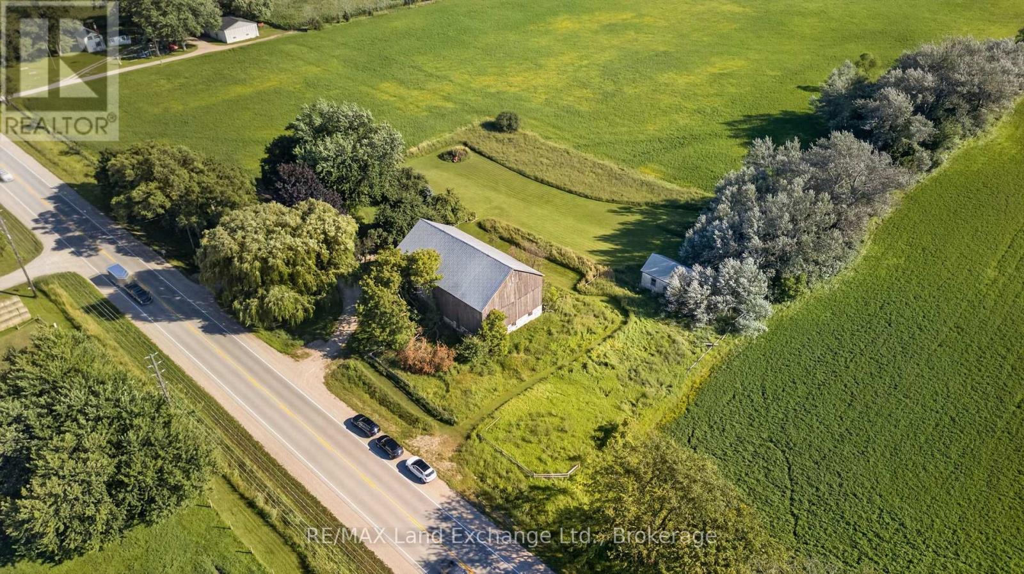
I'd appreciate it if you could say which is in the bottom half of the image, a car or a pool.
car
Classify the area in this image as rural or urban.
rural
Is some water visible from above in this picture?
No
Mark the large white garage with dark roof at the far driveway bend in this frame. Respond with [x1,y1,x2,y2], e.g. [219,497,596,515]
[206,14,259,43]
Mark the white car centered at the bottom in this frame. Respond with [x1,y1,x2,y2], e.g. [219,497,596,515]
[404,456,438,485]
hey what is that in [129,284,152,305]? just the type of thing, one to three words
car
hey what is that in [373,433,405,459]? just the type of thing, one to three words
car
